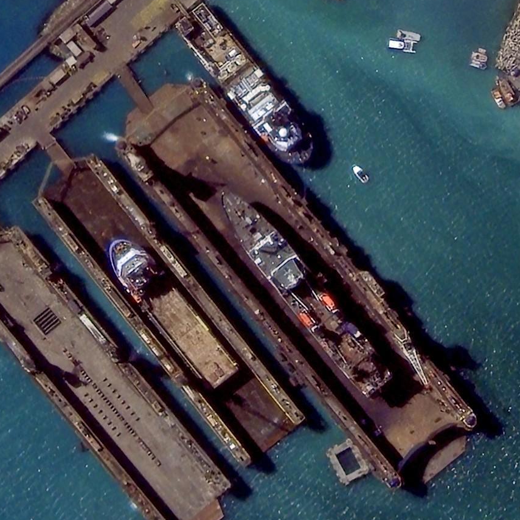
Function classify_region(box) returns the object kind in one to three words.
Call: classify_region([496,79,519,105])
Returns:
boat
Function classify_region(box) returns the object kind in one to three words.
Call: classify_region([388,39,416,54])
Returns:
boat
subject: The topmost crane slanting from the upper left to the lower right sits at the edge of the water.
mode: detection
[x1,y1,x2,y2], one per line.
[125,152,160,186]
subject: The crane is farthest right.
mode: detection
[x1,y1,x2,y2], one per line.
[388,318,429,387]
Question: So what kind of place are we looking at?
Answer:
port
